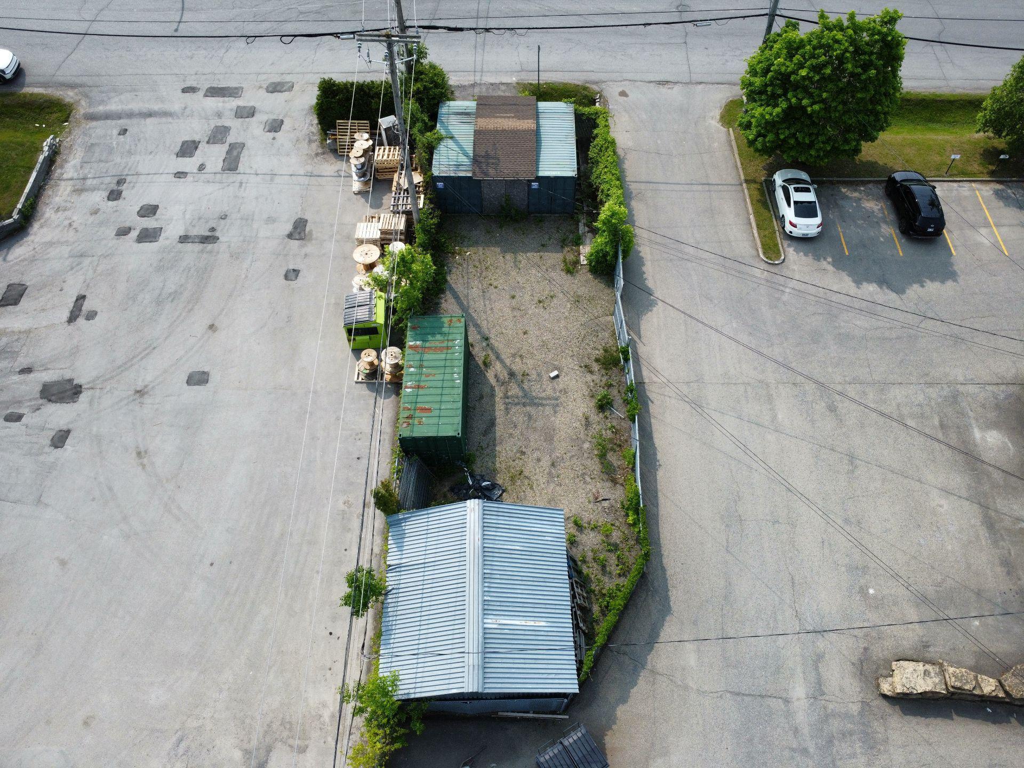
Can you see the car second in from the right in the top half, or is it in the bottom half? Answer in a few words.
top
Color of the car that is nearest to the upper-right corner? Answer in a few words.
black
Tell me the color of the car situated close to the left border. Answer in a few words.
white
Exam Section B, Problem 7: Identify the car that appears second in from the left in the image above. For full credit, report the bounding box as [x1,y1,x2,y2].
[772,168,822,234]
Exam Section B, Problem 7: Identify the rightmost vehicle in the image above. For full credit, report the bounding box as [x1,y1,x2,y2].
[886,167,948,236]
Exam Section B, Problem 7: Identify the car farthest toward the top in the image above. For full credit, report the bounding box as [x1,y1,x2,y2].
[0,43,26,79]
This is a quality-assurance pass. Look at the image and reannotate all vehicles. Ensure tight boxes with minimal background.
[0,43,26,79]
[772,168,822,234]
[886,167,948,236]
